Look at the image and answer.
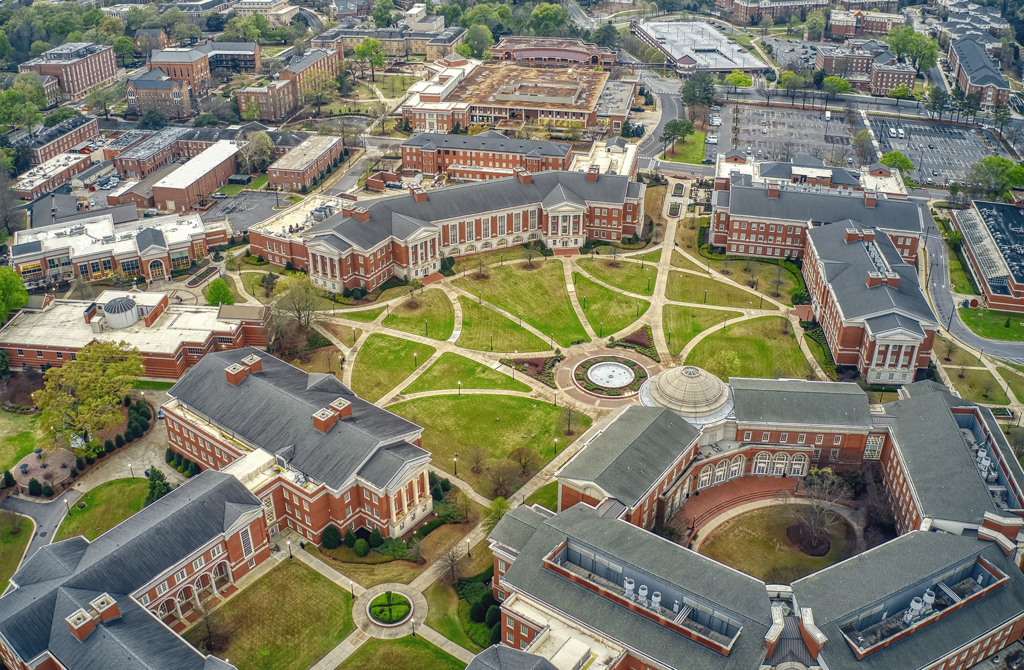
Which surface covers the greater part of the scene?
buildings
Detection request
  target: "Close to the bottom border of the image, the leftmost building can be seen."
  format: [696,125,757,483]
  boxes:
[0,469,271,670]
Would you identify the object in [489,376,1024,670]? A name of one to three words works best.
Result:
building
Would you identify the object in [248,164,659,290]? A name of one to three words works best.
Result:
building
